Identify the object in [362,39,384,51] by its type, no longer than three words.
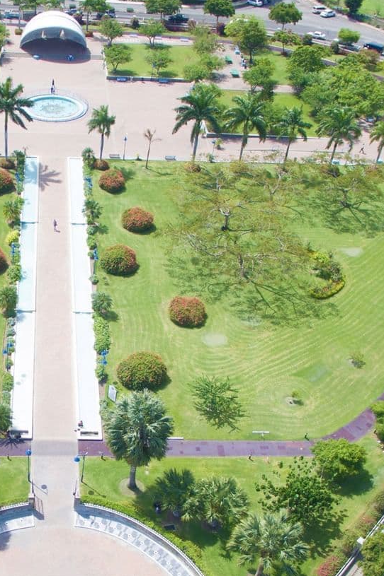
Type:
vehicle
